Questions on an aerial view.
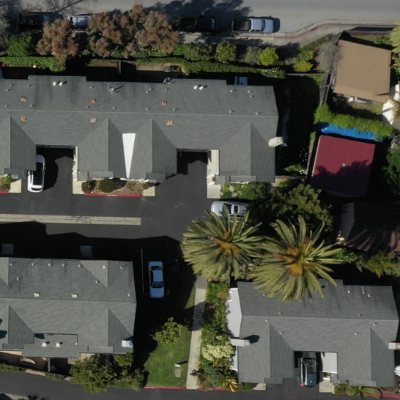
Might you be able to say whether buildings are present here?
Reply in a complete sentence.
Yes, this view includes a building.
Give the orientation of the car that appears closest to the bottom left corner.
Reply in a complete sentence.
Seen from above, the car that appears closest to the bottom left corner lies up and down.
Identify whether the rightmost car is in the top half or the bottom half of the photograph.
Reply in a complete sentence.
The bottom half of the photo is where the rightmost car is.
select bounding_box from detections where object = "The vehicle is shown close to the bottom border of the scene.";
[297,352,318,388]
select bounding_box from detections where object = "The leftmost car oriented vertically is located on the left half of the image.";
[27,154,47,193]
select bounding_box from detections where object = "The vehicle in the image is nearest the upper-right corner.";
[230,14,276,35]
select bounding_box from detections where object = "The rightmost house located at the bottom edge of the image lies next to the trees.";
[211,278,400,387]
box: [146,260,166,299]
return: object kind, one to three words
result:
car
